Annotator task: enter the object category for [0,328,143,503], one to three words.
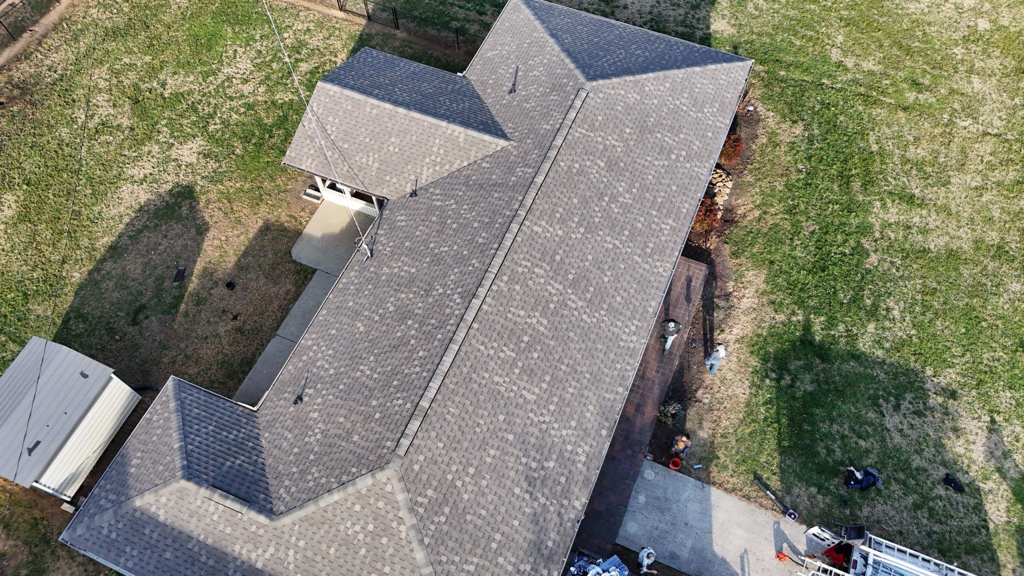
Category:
shed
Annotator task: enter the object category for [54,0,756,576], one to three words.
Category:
house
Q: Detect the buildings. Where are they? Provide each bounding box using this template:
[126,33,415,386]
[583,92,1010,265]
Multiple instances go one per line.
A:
[54,0,756,576]
[0,328,143,503]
